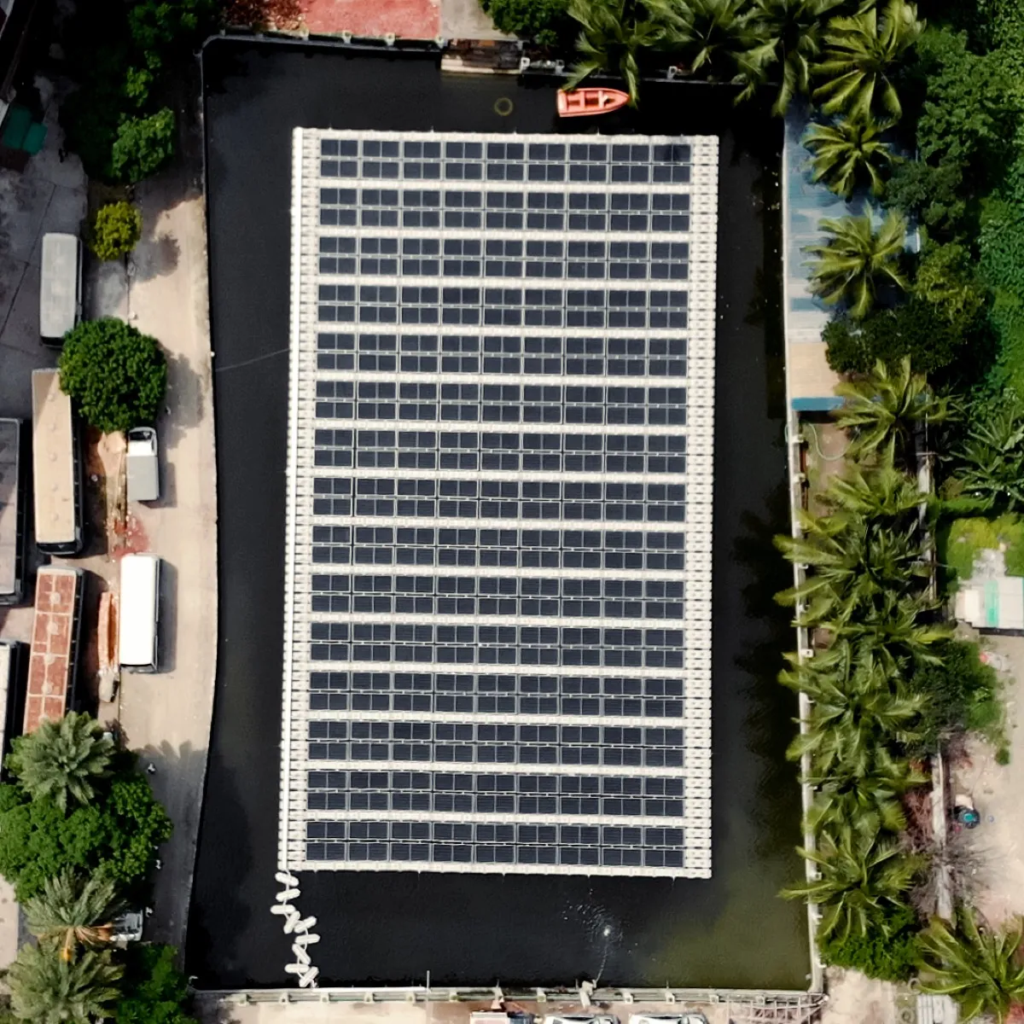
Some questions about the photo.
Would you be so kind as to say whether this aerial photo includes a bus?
Yes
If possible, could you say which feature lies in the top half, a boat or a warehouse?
boat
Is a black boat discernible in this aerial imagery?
No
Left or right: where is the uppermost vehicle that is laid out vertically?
left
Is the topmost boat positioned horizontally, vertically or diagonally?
horizontally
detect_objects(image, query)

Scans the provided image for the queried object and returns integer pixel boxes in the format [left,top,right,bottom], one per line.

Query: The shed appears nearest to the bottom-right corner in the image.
[955,578,1024,630]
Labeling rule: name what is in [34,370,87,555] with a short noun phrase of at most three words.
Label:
bus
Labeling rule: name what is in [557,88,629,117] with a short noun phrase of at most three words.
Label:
boat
